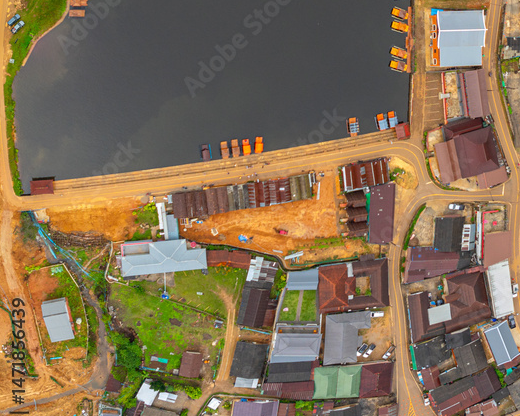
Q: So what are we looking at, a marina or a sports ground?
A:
marina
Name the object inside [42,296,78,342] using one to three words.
house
